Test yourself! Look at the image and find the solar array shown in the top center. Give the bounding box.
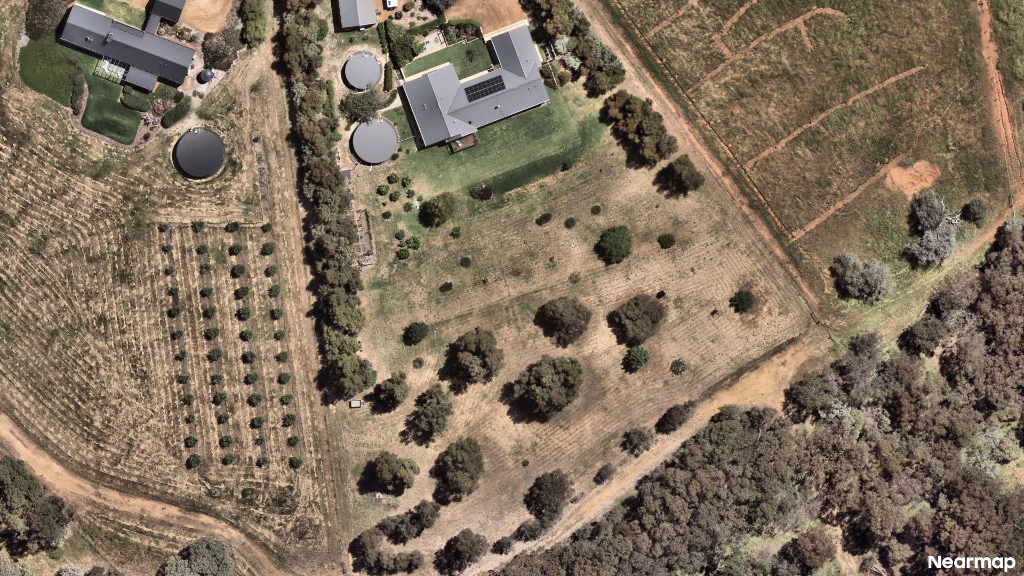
[464,75,505,102]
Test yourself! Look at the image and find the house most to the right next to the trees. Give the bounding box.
[403,25,551,146]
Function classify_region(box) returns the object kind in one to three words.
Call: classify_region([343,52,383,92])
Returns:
water tank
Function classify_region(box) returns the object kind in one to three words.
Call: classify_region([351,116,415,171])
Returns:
water tank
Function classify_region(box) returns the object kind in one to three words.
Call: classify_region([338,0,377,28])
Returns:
shed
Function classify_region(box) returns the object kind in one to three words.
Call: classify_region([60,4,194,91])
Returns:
house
